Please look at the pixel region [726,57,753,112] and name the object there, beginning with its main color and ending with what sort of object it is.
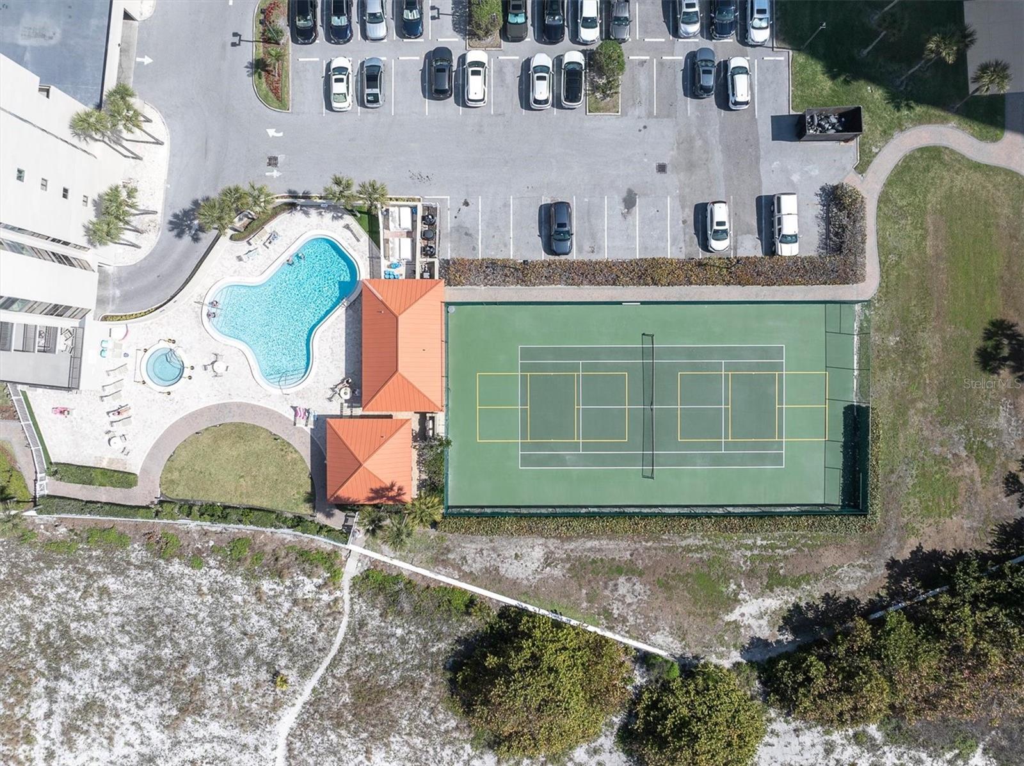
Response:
white car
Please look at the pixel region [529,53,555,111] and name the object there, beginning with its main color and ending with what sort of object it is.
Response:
white car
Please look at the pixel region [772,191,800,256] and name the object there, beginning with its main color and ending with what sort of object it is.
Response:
white truck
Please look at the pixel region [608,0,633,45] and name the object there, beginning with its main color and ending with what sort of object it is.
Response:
gray car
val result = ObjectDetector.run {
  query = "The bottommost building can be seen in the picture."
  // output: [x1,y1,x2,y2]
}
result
[326,418,415,504]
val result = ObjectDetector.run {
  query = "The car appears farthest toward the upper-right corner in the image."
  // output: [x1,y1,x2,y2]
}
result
[747,0,773,48]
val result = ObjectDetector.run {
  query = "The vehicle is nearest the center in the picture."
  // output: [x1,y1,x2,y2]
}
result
[549,201,574,256]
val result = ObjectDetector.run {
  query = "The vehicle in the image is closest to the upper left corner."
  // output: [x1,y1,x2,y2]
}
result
[292,0,319,46]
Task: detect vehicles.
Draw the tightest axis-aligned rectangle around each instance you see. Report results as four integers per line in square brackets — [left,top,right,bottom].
[549,201,574,256]
[464,50,489,108]
[561,50,587,109]
[705,201,732,254]
[677,0,702,38]
[542,0,567,46]
[400,0,425,40]
[576,0,601,46]
[429,47,455,102]
[504,0,529,45]
[747,0,773,48]
[292,0,319,46]
[726,57,753,112]
[608,0,633,45]
[711,0,738,42]
[692,47,719,100]
[360,57,385,109]
[362,0,387,42]
[328,57,353,113]
[529,53,555,111]
[772,191,800,256]
[326,0,352,46]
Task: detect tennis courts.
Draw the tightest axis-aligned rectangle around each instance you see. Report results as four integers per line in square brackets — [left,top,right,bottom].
[446,305,855,507]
